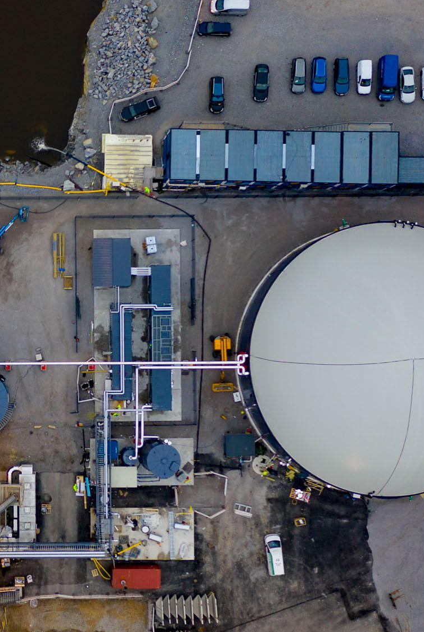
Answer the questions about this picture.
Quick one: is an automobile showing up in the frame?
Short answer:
Yes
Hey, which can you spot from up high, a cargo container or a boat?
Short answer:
cargo container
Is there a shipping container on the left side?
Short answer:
Yes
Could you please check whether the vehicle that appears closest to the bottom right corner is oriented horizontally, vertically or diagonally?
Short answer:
vertically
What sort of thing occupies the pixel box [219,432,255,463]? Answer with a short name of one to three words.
shed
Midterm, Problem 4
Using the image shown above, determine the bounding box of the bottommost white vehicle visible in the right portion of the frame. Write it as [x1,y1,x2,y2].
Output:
[264,534,286,578]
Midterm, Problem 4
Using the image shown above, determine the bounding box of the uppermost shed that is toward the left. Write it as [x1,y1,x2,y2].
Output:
[101,133,153,191]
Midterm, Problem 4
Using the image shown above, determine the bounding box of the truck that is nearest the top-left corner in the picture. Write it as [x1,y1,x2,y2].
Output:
[119,95,161,123]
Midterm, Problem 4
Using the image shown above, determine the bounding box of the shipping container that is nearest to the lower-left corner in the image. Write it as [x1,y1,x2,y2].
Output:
[109,564,160,589]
